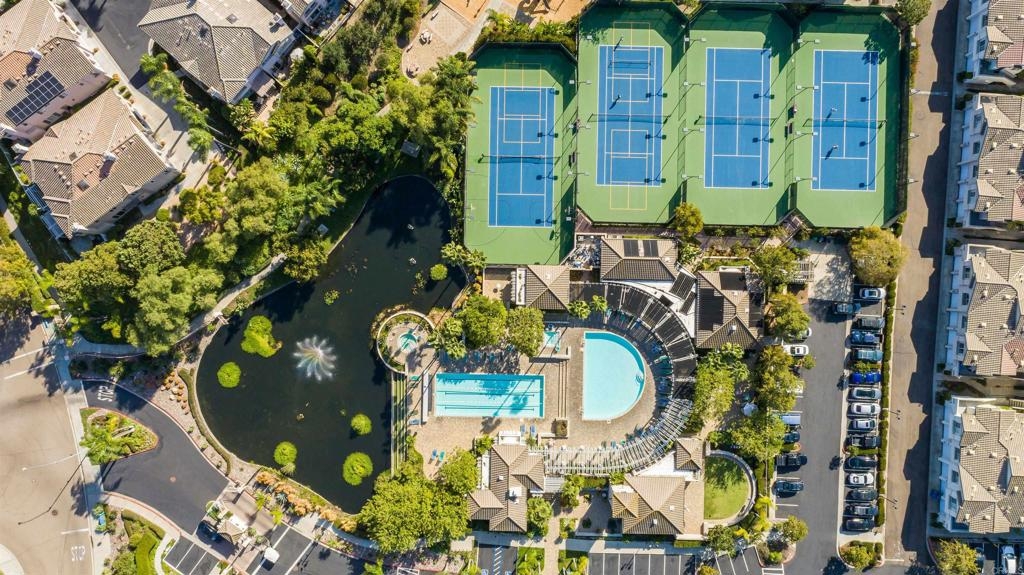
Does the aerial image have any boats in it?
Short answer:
No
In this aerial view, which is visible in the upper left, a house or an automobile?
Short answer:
house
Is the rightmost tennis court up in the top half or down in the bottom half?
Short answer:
top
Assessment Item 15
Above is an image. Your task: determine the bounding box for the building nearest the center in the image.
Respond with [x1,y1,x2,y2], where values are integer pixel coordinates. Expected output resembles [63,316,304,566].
[526,264,571,311]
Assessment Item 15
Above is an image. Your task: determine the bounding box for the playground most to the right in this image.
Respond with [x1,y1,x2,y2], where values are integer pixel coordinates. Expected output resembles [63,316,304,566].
[523,0,585,24]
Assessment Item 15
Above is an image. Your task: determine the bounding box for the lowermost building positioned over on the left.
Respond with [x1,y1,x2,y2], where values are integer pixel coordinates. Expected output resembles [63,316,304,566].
[216,514,250,547]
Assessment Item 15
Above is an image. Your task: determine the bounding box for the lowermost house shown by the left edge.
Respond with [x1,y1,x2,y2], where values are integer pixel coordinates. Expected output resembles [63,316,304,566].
[20,87,177,238]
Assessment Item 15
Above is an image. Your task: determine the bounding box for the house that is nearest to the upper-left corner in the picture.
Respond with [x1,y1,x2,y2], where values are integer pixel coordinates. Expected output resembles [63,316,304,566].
[0,0,108,128]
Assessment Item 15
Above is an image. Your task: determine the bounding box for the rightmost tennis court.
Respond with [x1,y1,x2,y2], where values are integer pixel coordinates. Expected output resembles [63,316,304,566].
[788,21,892,230]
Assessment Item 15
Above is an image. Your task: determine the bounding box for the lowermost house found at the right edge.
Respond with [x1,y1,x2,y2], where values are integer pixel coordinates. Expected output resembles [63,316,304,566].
[934,395,1024,534]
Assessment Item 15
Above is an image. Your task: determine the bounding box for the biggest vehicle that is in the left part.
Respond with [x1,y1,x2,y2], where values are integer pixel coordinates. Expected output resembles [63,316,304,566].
[196,517,223,543]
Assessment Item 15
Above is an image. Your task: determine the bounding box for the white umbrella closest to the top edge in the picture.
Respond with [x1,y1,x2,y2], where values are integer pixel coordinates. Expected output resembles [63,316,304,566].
[290,46,304,60]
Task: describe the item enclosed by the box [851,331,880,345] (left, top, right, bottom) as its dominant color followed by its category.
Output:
blue car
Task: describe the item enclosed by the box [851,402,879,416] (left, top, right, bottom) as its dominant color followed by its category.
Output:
white car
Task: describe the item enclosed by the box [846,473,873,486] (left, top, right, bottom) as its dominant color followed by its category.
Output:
white vehicle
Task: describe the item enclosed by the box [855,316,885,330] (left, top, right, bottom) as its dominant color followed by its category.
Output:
gray vehicle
